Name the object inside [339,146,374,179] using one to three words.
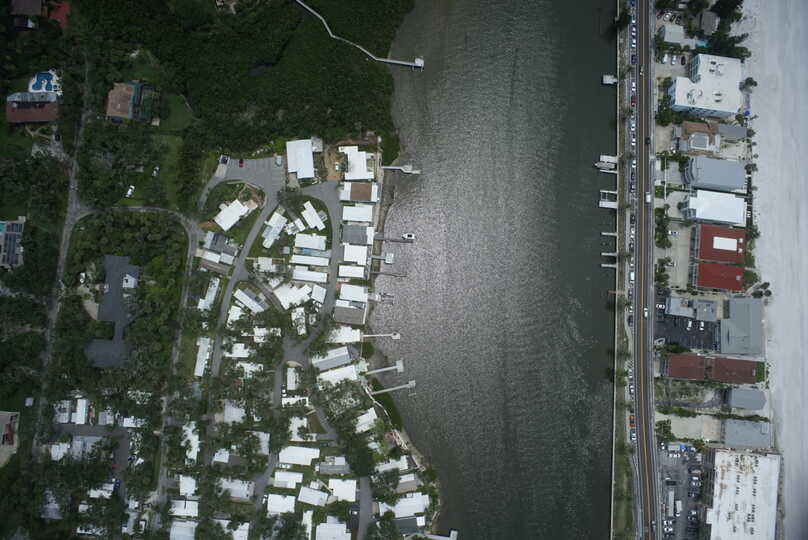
house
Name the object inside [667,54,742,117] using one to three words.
building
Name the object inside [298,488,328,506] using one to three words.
house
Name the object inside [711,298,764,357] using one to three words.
building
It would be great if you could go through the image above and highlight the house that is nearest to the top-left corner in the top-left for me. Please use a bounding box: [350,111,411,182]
[12,0,51,29]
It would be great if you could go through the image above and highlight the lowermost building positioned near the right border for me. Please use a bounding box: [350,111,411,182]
[694,444,780,540]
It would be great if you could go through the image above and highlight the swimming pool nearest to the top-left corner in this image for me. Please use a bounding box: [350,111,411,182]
[28,71,62,94]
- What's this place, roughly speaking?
residential area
